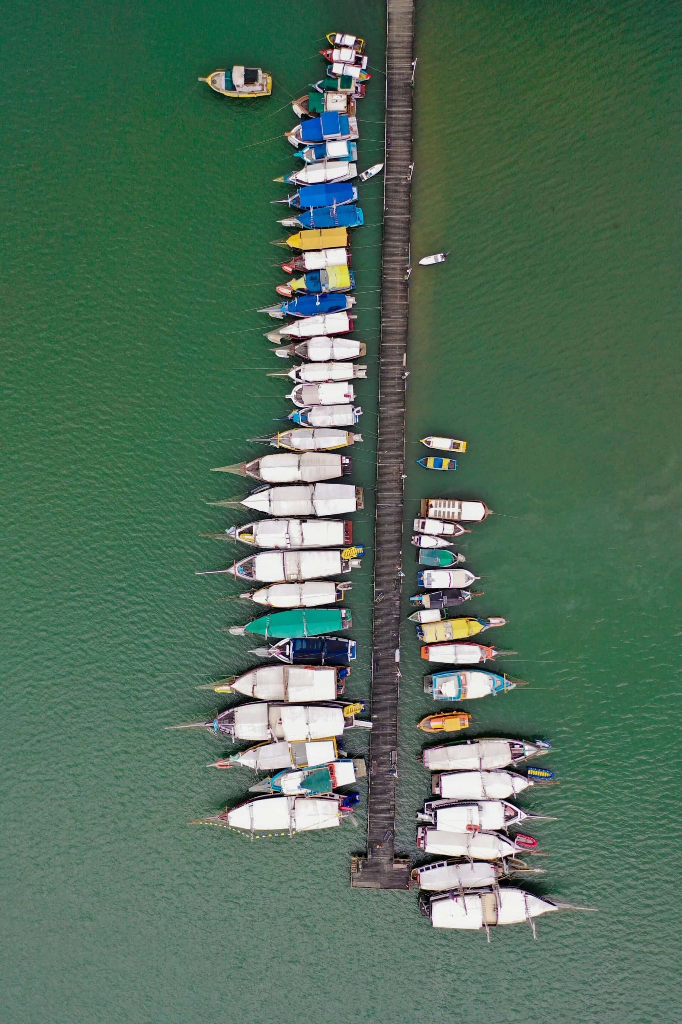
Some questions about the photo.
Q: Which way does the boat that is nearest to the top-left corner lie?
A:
from left to right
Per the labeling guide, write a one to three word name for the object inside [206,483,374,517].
boat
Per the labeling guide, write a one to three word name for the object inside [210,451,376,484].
boat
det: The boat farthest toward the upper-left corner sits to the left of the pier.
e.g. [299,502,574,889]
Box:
[193,67,271,100]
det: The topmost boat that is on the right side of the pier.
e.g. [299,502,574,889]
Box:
[418,251,450,266]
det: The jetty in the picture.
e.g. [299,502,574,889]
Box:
[351,0,415,890]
